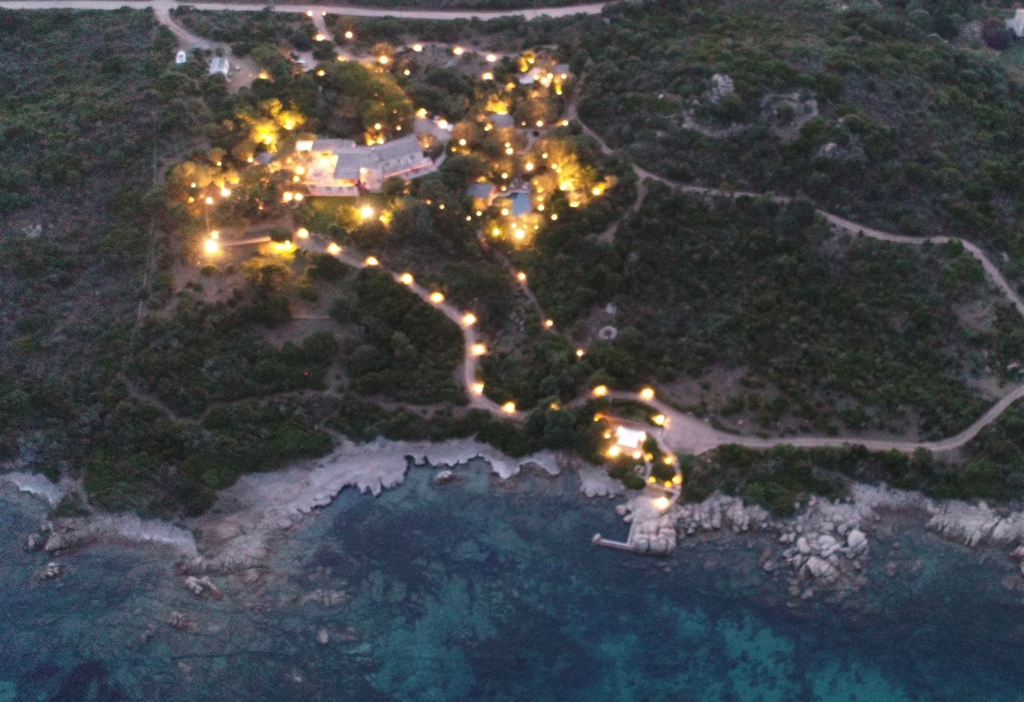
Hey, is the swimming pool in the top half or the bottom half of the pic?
top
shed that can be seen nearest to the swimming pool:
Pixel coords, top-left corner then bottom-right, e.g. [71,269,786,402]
[467,184,494,206]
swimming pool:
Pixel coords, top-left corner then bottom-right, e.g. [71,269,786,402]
[509,192,533,225]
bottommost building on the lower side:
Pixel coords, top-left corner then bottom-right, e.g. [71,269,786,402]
[611,426,651,460]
